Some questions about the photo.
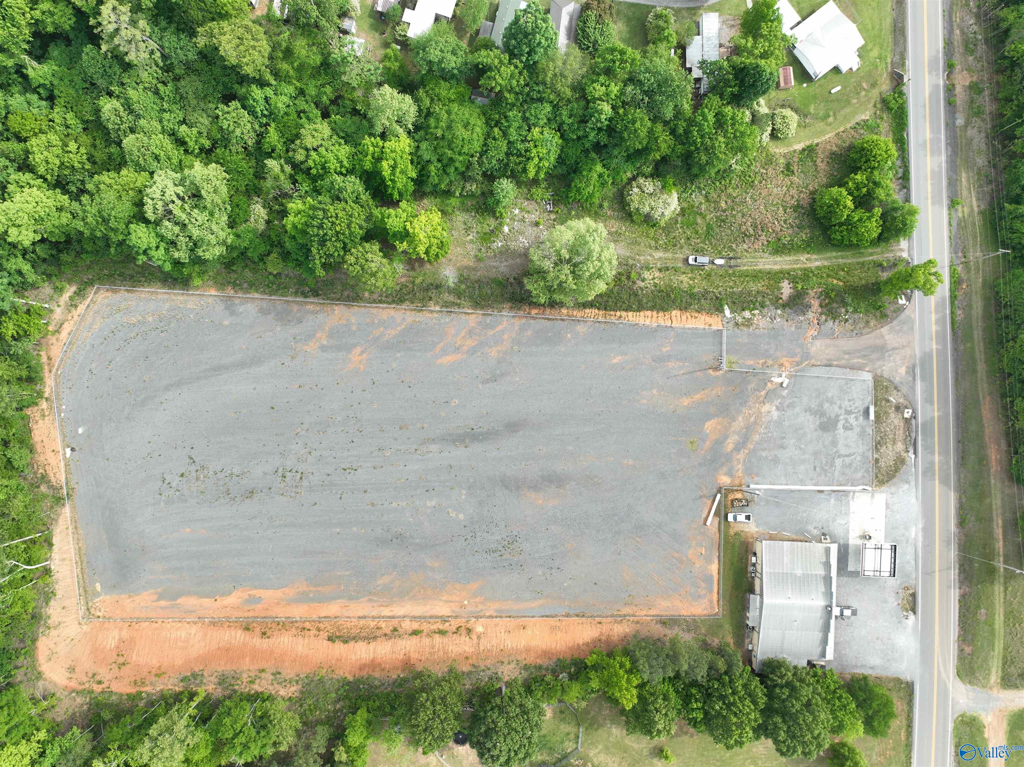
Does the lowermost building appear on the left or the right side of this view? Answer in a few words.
right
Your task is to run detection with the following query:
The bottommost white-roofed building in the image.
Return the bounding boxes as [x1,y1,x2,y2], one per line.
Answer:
[745,538,838,673]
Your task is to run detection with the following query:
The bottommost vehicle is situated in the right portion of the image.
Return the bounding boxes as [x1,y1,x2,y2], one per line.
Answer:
[835,608,860,621]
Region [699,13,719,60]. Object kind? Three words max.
house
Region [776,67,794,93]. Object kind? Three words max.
shed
